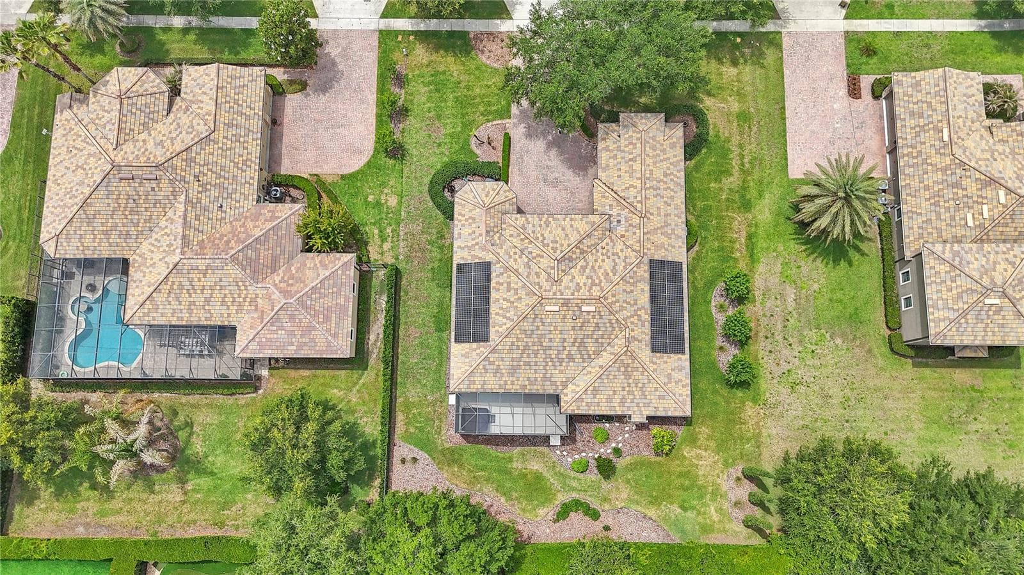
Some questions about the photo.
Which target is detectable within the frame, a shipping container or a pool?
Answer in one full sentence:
The image shows a pool.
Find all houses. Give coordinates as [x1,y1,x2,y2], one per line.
[40,62,356,358]
[879,65,1024,358]
[450,112,694,422]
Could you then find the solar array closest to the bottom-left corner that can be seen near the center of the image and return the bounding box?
[454,259,489,343]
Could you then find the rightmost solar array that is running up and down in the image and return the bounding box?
[652,261,685,353]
